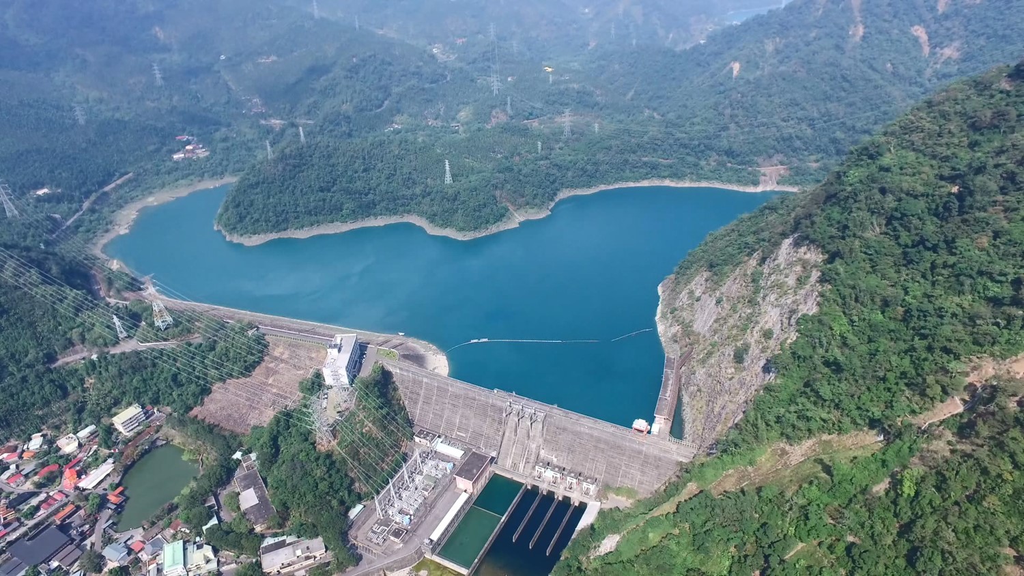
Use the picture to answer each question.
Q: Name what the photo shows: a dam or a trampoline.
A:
dam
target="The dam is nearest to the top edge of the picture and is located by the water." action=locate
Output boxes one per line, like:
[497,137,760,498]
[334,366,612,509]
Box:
[382,353,689,496]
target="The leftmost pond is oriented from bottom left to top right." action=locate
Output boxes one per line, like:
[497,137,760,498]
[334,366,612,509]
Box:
[116,444,200,533]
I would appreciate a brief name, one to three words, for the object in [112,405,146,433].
building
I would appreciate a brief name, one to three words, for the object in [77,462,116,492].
building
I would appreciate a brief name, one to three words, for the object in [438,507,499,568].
swimming pool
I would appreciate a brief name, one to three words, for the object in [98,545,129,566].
house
